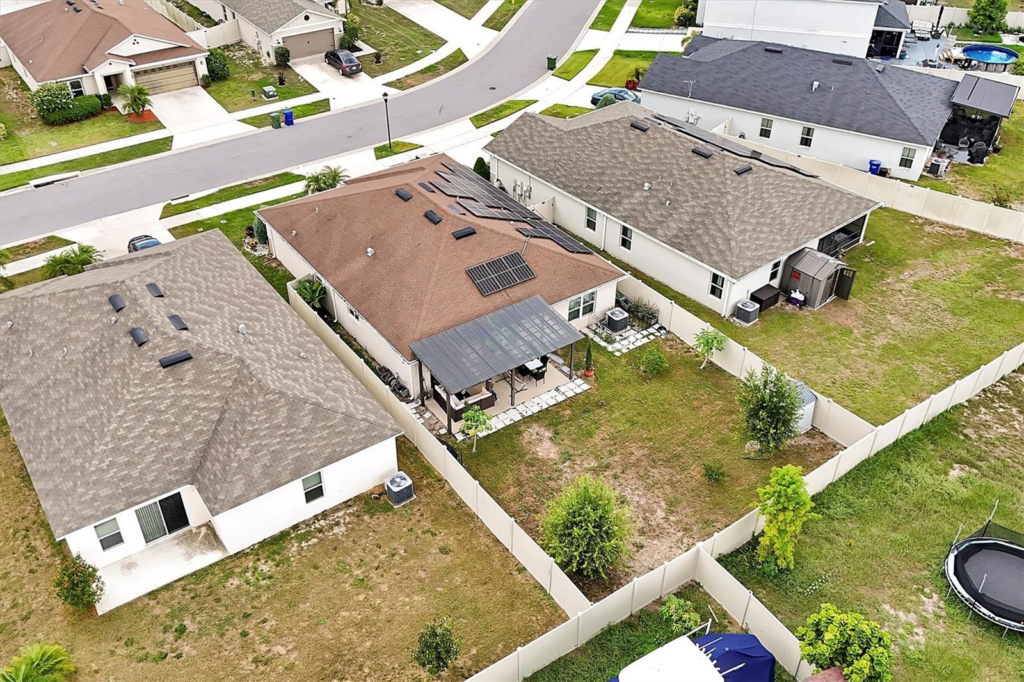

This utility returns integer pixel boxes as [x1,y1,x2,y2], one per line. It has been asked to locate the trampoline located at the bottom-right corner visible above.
[940,514,1024,645]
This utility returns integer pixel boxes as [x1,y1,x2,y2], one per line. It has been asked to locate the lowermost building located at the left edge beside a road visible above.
[0,227,404,574]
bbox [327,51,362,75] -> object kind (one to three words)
car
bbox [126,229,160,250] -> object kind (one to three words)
car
